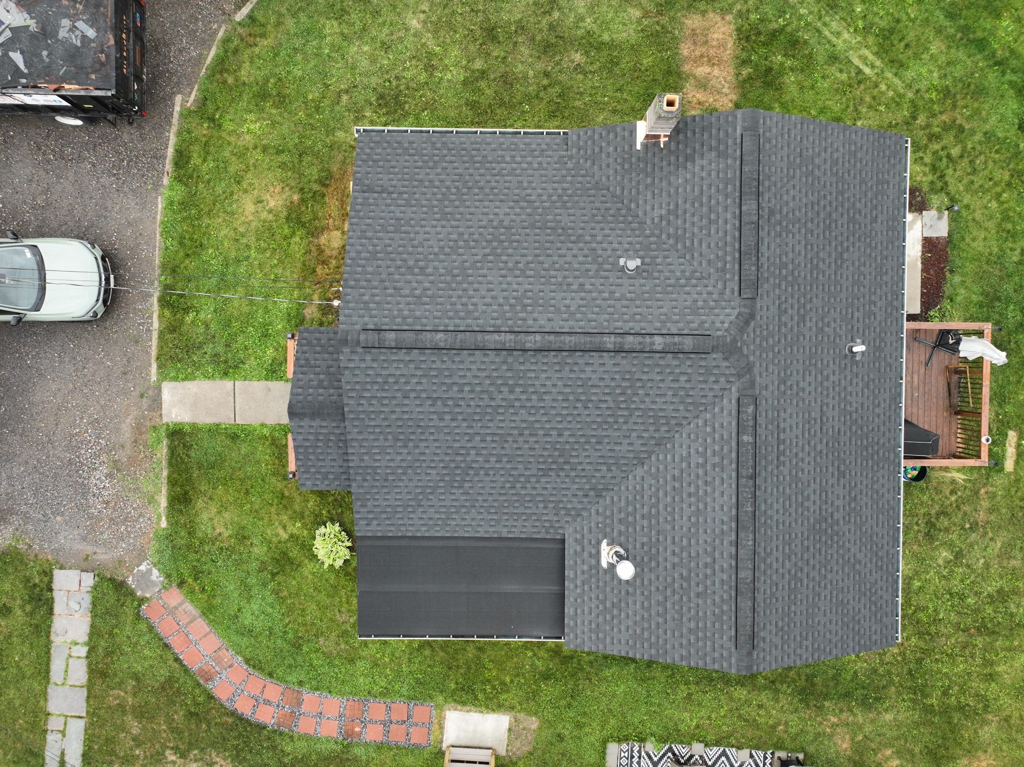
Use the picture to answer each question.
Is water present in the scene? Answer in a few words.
No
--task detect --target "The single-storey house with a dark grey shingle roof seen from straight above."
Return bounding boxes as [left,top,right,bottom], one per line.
[288,93,910,676]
